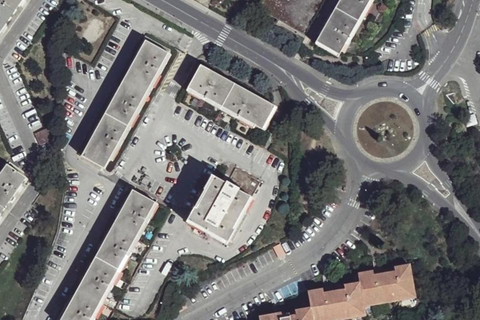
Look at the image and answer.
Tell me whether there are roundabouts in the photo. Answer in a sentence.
Yes, looking at the shot, I can spot a roundabout.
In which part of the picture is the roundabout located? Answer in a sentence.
The roundabout sits in the right section of the image.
